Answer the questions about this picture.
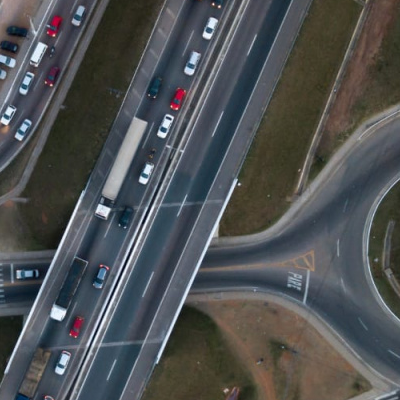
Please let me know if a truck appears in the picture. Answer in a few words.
Yes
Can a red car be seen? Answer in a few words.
Yes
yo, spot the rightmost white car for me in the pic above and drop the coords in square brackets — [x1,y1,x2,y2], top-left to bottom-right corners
[202,16,218,40]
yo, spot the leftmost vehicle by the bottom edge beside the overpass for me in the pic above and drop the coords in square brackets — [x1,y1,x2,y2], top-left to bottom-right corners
[16,347,50,400]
